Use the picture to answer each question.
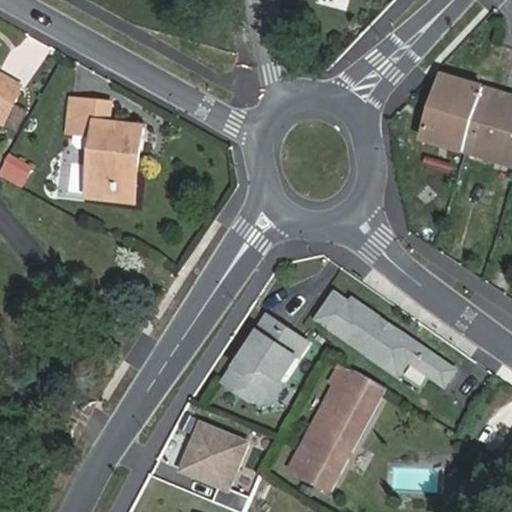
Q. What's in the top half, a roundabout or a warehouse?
roundabout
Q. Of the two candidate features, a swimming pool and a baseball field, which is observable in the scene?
swimming pool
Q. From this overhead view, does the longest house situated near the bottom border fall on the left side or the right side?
right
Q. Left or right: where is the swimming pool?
right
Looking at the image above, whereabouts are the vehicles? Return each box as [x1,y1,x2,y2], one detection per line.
[266,288,286,306]
[477,422,495,444]
[192,482,212,497]
[30,8,52,25]
[286,296,306,315]
[459,376,476,395]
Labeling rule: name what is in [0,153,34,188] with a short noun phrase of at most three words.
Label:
shed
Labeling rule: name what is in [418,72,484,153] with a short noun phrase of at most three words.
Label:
house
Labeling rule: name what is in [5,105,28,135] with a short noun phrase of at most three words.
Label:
shed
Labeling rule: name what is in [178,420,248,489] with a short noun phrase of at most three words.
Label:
house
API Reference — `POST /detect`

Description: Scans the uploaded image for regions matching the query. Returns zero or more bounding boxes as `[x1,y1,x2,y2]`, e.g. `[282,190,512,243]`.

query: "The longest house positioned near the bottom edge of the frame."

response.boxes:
[288,365,384,492]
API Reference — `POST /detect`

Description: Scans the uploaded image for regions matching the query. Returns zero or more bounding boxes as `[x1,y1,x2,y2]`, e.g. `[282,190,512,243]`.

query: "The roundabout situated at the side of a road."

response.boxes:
[242,74,386,248]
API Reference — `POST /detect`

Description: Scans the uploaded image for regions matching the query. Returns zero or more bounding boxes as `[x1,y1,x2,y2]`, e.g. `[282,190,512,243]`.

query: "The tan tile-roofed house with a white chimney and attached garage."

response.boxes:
[64,96,148,206]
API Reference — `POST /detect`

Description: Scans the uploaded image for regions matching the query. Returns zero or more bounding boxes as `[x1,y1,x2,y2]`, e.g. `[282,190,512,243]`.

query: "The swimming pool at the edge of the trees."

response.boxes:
[388,464,444,497]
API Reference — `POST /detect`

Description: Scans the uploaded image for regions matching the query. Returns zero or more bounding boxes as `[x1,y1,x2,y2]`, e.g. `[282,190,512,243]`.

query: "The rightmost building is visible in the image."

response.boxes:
[464,86,512,166]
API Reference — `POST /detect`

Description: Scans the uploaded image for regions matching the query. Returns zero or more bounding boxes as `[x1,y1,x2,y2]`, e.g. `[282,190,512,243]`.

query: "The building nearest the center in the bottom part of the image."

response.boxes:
[220,312,312,406]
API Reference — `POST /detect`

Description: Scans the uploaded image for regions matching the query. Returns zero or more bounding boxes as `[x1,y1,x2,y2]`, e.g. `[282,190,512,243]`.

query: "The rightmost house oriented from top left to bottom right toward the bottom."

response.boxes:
[313,290,457,389]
